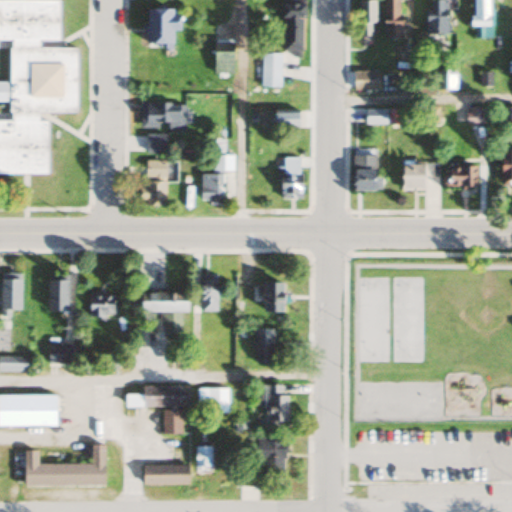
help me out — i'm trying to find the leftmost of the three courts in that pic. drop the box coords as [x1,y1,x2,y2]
[360,278,390,363]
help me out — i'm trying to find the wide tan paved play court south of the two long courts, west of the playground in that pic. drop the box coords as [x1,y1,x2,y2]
[360,382,444,416]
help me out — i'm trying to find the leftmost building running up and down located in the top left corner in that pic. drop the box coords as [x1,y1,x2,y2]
[0,0,80,173]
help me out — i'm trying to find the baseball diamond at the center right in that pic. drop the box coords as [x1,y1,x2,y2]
[458,270,512,338]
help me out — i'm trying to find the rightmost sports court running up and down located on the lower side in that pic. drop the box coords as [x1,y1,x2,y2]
[393,278,425,363]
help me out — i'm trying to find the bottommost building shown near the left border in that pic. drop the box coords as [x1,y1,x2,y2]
[26,446,106,488]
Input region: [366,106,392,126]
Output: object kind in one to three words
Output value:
building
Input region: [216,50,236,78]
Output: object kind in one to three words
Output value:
building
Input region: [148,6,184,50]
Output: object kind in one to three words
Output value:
house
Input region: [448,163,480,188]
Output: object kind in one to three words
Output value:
house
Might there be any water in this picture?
No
